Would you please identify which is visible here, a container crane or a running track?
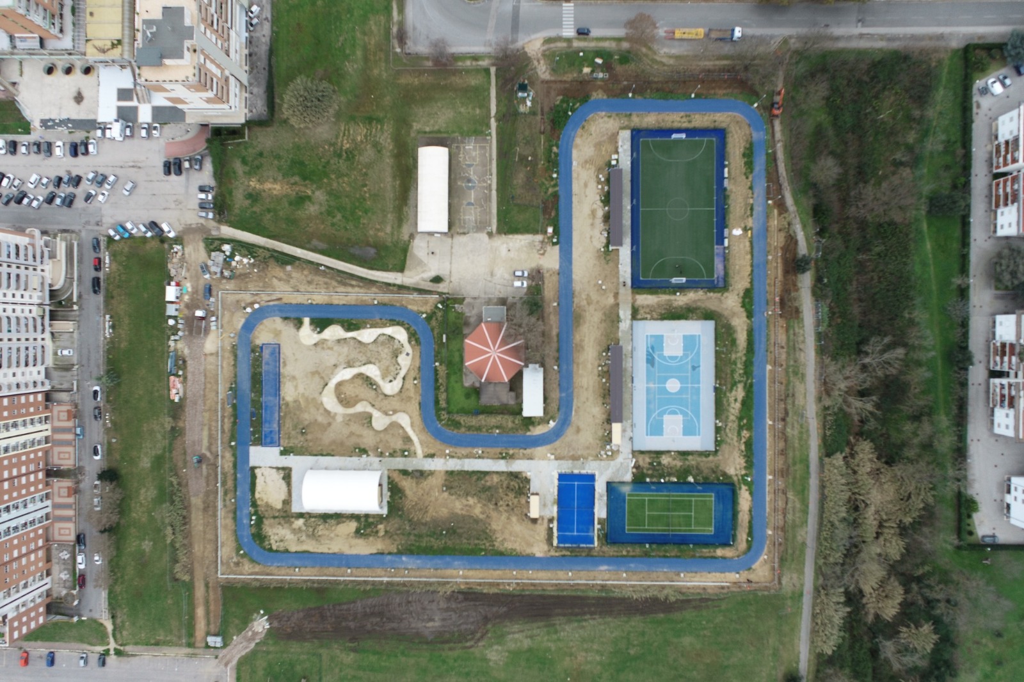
running track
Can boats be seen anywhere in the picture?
No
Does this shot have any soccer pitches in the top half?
Yes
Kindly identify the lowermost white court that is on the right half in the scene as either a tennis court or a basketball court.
basketball court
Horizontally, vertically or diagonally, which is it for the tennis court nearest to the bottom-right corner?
horizontally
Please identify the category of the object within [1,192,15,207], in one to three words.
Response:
car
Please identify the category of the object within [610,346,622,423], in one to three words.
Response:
building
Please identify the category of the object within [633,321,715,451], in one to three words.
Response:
basketball court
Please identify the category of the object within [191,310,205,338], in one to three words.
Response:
vehicle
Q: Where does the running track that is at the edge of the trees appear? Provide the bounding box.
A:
[236,99,766,572]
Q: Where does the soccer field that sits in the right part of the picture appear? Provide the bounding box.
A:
[632,130,726,288]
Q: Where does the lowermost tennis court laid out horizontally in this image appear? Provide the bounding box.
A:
[607,482,734,544]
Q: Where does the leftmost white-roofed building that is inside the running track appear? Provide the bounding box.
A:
[300,469,386,513]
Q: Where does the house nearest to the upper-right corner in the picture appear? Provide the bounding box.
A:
[990,101,1024,172]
